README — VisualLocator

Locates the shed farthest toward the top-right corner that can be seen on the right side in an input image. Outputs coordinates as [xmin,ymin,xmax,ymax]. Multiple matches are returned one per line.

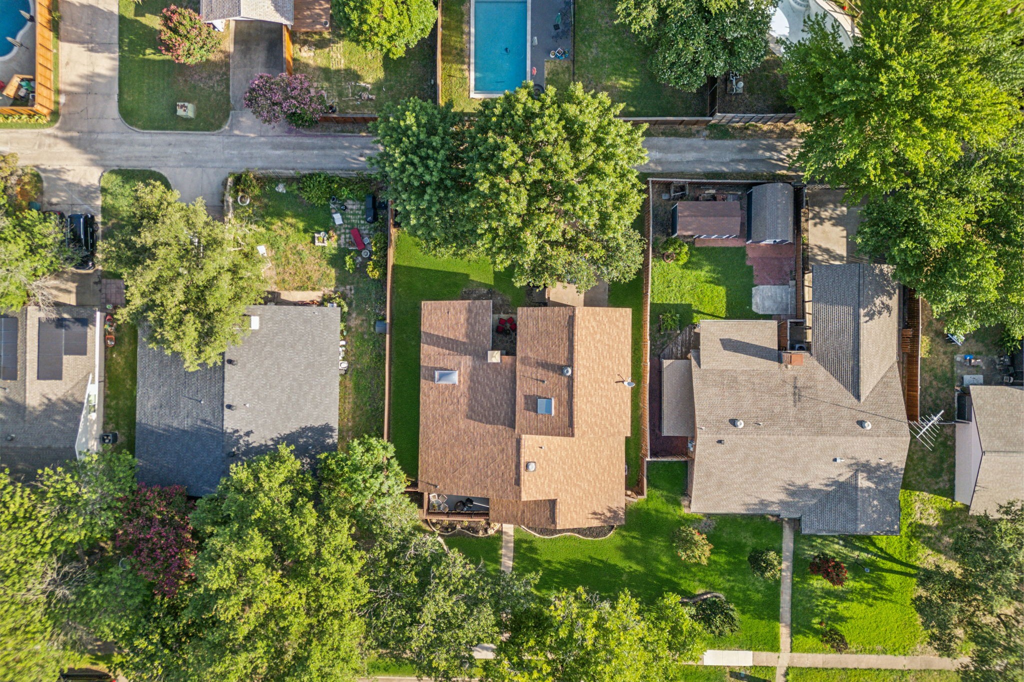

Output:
[745,184,800,246]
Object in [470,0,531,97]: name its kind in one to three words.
swimming pool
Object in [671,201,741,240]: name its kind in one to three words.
shed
